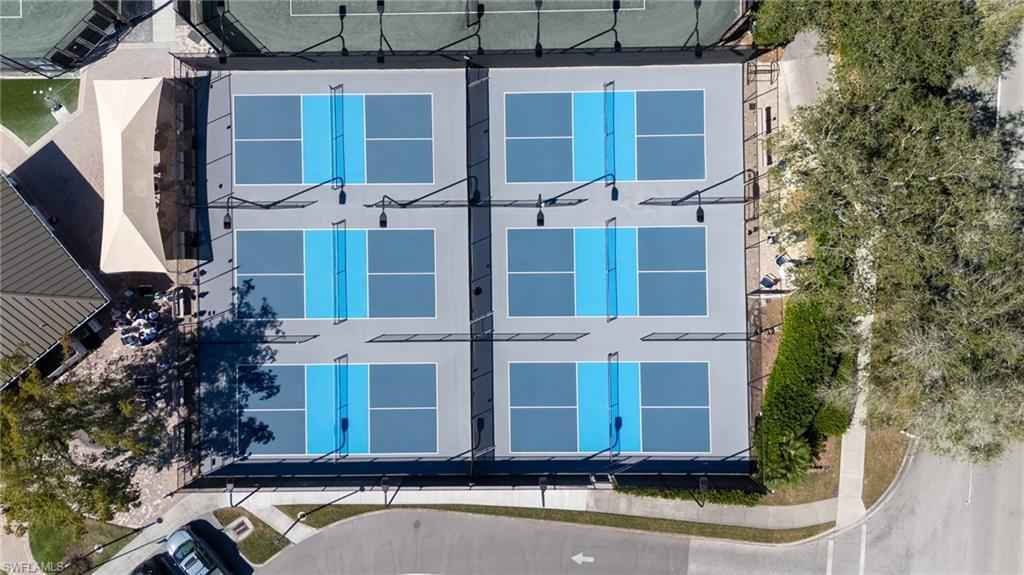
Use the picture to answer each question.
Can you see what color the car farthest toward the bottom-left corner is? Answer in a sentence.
In this view, the car farthest toward the bottom-left corner is black.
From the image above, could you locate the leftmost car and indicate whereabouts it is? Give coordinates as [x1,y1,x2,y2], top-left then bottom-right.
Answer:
[134,555,174,575]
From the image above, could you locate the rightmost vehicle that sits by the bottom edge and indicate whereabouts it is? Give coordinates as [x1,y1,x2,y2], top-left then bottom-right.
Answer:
[167,527,228,575]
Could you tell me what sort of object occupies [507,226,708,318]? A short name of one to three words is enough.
sports court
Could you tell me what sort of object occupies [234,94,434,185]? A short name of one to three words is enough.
sports court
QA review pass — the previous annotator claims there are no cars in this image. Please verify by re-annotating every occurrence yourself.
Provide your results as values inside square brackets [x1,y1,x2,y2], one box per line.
[167,527,228,575]
[134,555,174,575]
